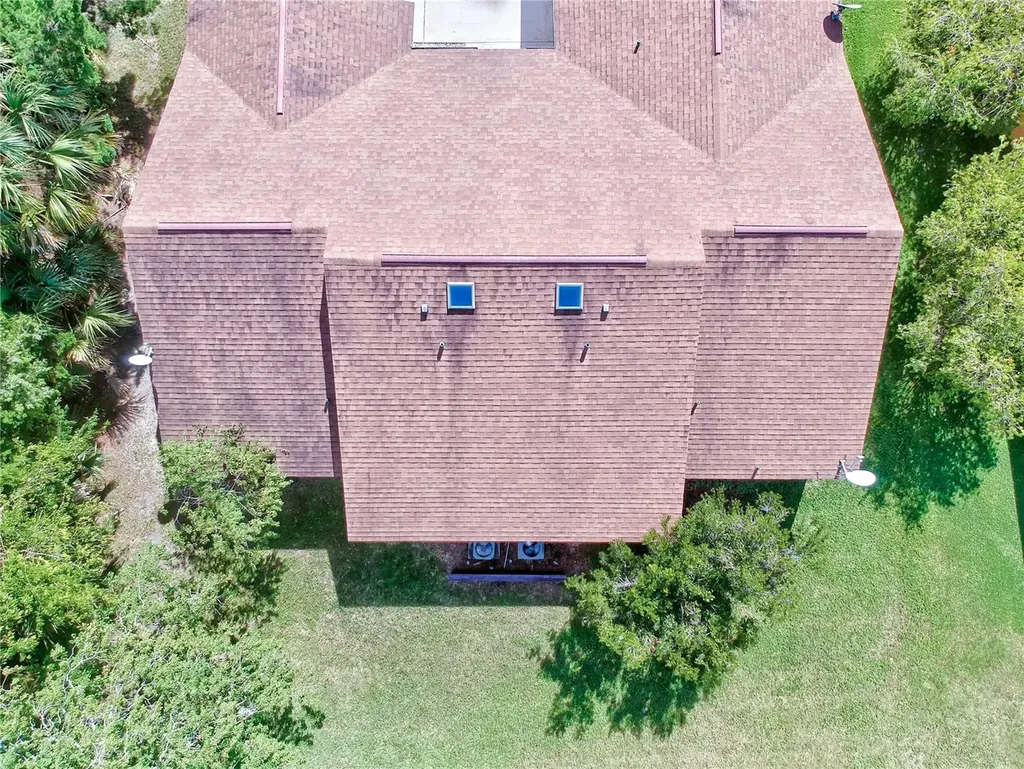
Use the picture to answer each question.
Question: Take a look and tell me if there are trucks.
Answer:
No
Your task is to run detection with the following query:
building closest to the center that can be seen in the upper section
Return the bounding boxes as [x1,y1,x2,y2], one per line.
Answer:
[123,0,905,543]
